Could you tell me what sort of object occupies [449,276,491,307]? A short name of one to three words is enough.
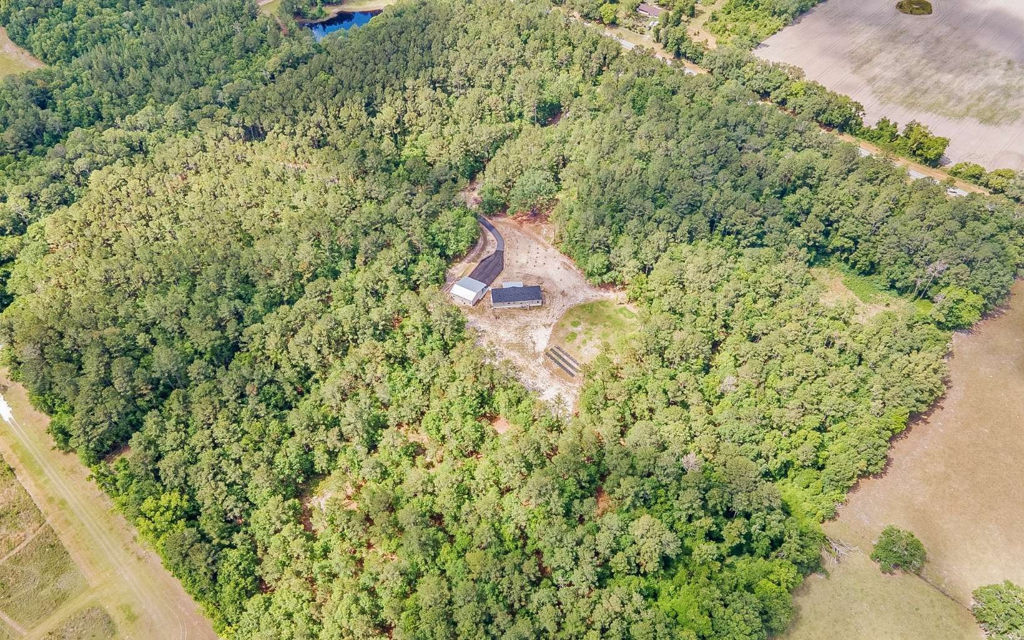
building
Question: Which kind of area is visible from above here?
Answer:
forest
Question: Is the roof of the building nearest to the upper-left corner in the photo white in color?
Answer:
Yes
